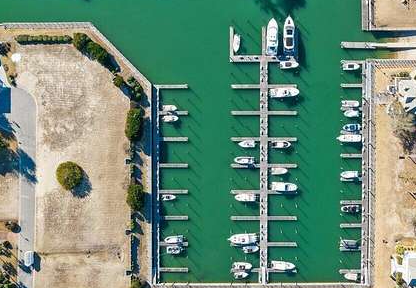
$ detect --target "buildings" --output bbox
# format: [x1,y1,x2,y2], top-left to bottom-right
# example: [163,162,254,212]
[383,77,416,118]
[383,246,416,288]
